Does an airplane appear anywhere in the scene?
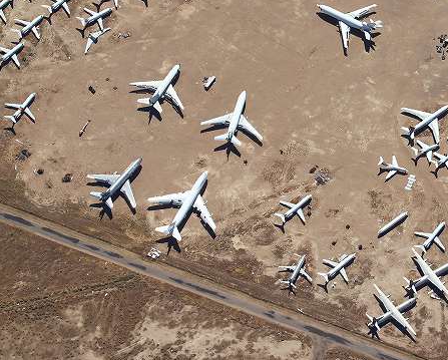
Yes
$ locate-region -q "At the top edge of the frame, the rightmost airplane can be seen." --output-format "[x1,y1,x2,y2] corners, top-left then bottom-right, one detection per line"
[317,0,382,52]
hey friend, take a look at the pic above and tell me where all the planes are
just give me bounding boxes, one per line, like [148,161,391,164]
[414,141,439,165]
[321,255,356,284]
[317,0,382,52]
[130,65,185,111]
[80,9,113,30]
[432,152,448,170]
[88,158,142,209]
[0,0,11,23]
[414,223,445,252]
[278,196,311,225]
[405,250,448,297]
[149,172,219,244]
[200,91,262,144]
[278,255,311,286]
[14,16,44,39]
[367,286,418,338]
[379,153,407,179]
[5,93,37,122]
[403,105,448,144]
[44,0,70,16]
[0,45,23,69]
